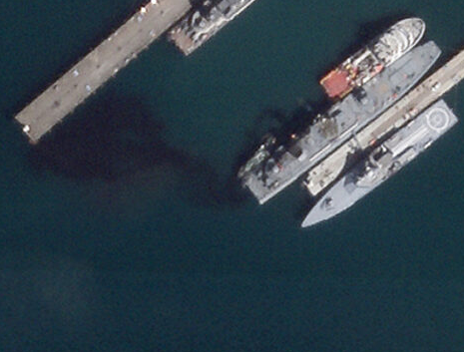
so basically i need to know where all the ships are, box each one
[240,41,441,204]
[302,99,458,227]
[169,0,255,56]
[320,18,424,98]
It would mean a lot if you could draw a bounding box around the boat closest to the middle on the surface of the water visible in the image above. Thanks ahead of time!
[238,147,270,176]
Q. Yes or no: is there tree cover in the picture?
No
